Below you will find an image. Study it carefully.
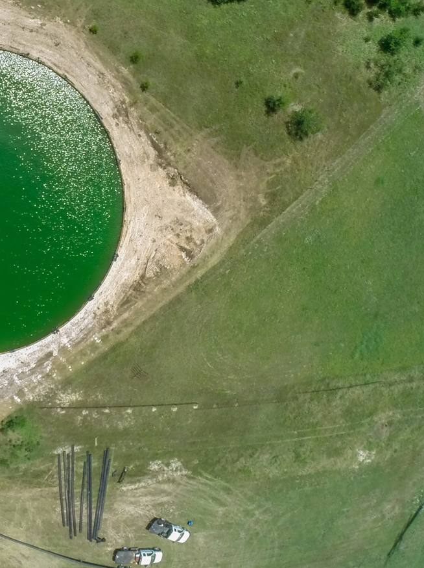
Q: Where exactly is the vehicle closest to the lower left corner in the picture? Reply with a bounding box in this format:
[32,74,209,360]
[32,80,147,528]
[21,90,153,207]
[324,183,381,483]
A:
[114,546,161,568]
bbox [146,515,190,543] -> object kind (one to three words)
truck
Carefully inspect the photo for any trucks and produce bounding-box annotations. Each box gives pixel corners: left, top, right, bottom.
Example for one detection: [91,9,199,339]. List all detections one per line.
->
[146,515,190,543]
[114,546,161,568]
